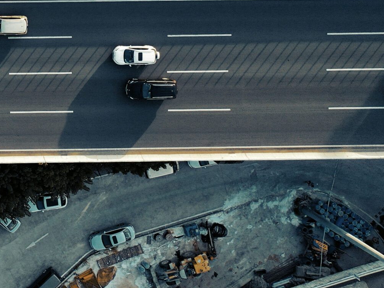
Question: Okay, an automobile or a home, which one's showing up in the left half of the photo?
automobile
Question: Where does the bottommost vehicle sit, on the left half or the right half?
left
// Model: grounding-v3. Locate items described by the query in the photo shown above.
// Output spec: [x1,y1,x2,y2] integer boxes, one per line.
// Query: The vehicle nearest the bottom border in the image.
[19,263,61,288]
